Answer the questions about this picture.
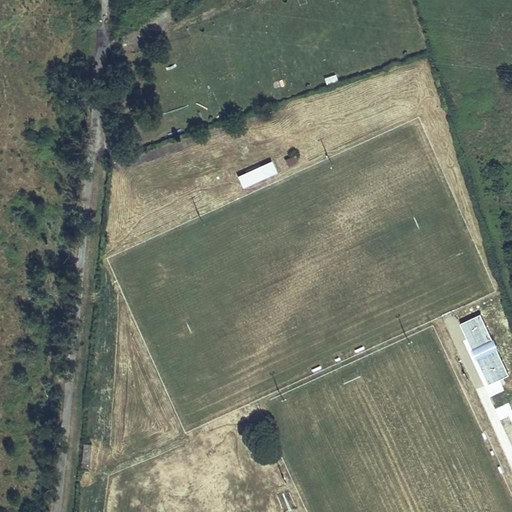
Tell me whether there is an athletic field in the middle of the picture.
Yes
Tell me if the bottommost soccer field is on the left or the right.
right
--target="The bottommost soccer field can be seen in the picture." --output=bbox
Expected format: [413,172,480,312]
[264,327,512,512]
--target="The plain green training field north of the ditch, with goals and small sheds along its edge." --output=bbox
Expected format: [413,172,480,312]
[135,0,423,142]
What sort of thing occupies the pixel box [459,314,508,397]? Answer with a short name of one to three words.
building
